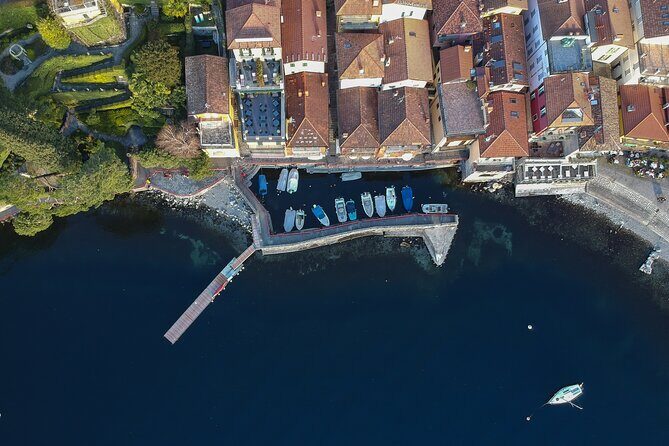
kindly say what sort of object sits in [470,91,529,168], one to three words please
house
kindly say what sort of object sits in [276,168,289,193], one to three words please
boat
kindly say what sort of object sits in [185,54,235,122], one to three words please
house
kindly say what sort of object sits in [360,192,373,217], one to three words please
boat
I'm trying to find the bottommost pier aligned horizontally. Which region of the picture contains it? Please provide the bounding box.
[262,214,461,268]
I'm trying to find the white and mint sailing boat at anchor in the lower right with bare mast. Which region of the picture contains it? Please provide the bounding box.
[548,383,583,407]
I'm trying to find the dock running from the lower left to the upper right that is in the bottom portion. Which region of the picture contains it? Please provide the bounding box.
[165,246,257,343]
